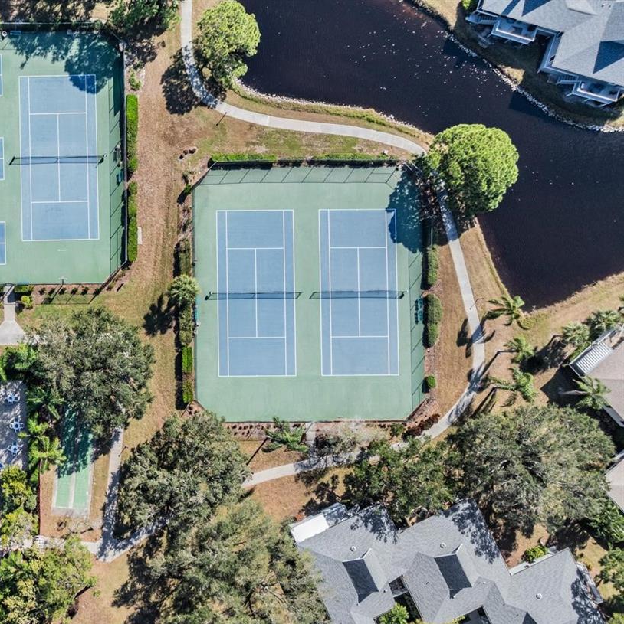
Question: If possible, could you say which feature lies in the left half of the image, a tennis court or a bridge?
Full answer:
There is a tennis court in the left half of the image.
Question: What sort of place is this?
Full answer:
This image shows a residential area.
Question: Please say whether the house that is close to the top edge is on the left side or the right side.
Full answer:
You can find the house that is close to the top edge on the right side of the picture.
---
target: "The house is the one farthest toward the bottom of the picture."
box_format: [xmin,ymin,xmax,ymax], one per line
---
[291,499,607,624]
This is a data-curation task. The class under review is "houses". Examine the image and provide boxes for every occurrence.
[559,328,624,443]
[596,443,624,504]
[291,499,607,624]
[464,0,624,108]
